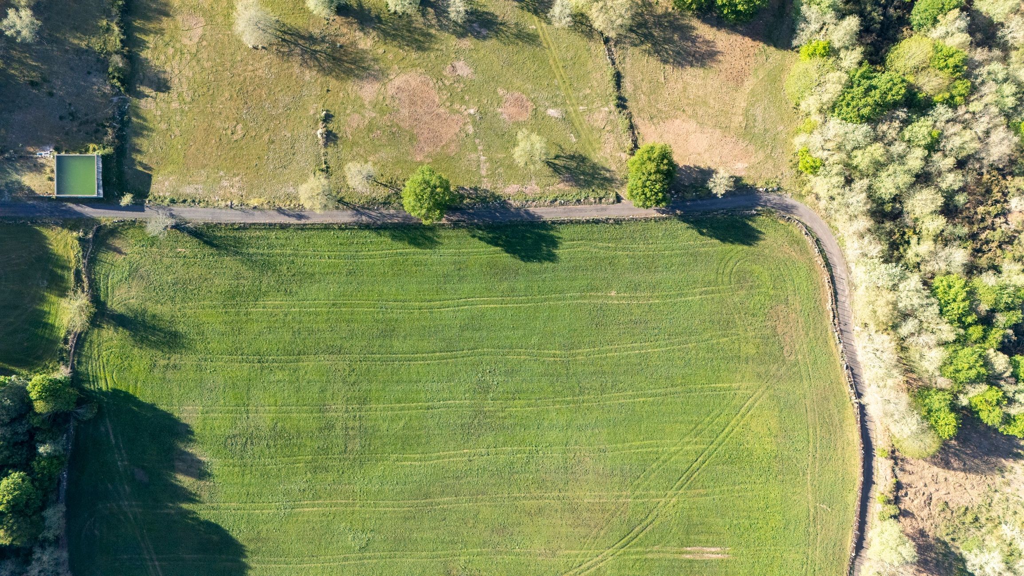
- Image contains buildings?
No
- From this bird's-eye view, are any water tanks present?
Yes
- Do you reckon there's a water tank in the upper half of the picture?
Yes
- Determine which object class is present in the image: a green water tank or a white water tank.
green water tank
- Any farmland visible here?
Yes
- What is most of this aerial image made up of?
grass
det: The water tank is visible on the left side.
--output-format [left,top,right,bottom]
[54,154,105,199]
